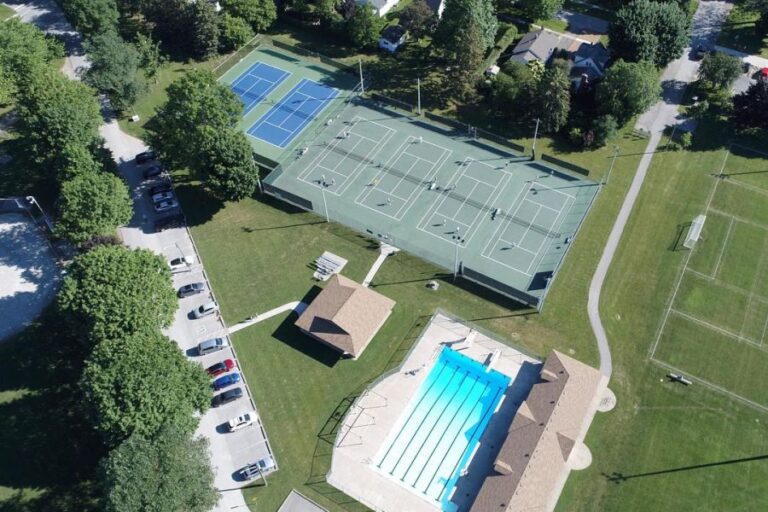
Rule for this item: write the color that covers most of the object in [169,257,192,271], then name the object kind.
white car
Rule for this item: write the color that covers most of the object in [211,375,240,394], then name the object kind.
blue car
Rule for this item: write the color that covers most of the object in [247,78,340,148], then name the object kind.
blue tennis court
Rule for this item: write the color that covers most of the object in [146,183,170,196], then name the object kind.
black vehicle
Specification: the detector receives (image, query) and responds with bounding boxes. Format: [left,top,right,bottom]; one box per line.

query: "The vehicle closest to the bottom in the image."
[238,456,276,481]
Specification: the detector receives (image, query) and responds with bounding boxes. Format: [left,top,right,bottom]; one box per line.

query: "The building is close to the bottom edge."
[472,349,602,512]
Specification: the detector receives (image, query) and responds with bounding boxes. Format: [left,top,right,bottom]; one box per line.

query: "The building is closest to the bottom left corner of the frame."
[293,274,397,364]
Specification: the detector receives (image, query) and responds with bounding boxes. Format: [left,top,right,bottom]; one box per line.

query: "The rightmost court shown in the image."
[480,180,577,277]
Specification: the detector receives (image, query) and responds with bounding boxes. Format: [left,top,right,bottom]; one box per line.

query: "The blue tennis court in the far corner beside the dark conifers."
[213,61,292,126]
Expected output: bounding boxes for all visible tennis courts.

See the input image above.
[247,78,340,148]
[298,116,395,196]
[480,180,577,277]
[416,157,512,247]
[355,136,452,220]
[213,61,292,126]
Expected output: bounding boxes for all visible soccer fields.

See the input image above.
[651,150,768,415]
